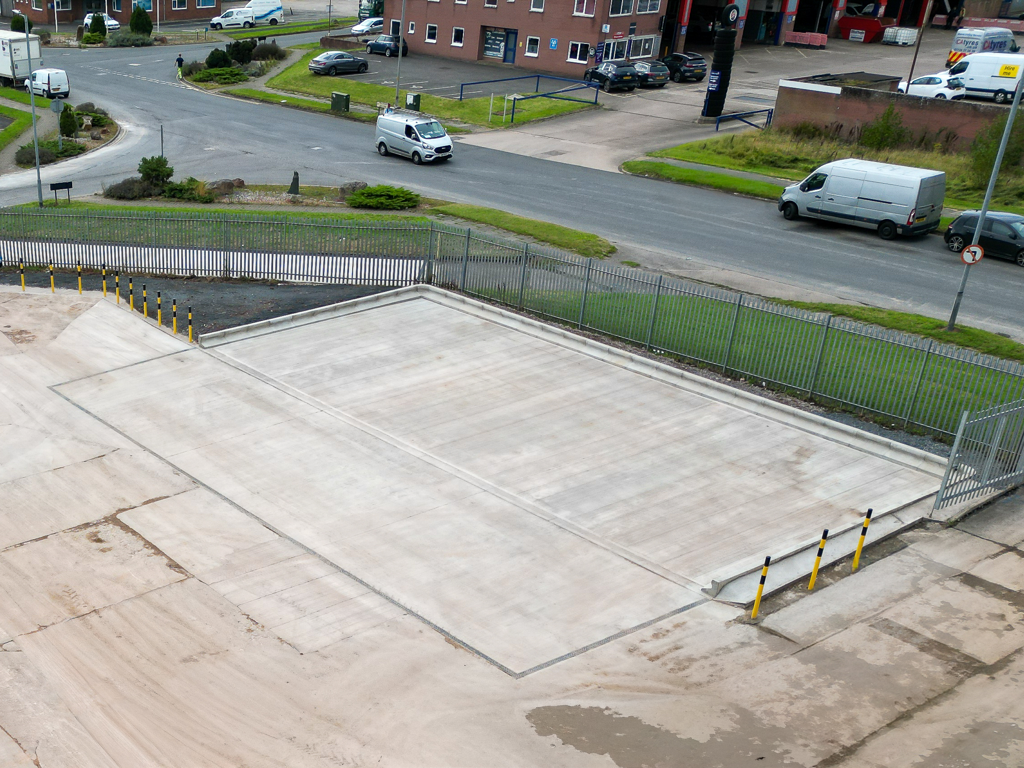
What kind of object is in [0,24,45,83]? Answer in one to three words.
truck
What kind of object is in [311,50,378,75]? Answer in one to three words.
car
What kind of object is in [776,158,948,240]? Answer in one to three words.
van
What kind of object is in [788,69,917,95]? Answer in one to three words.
building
